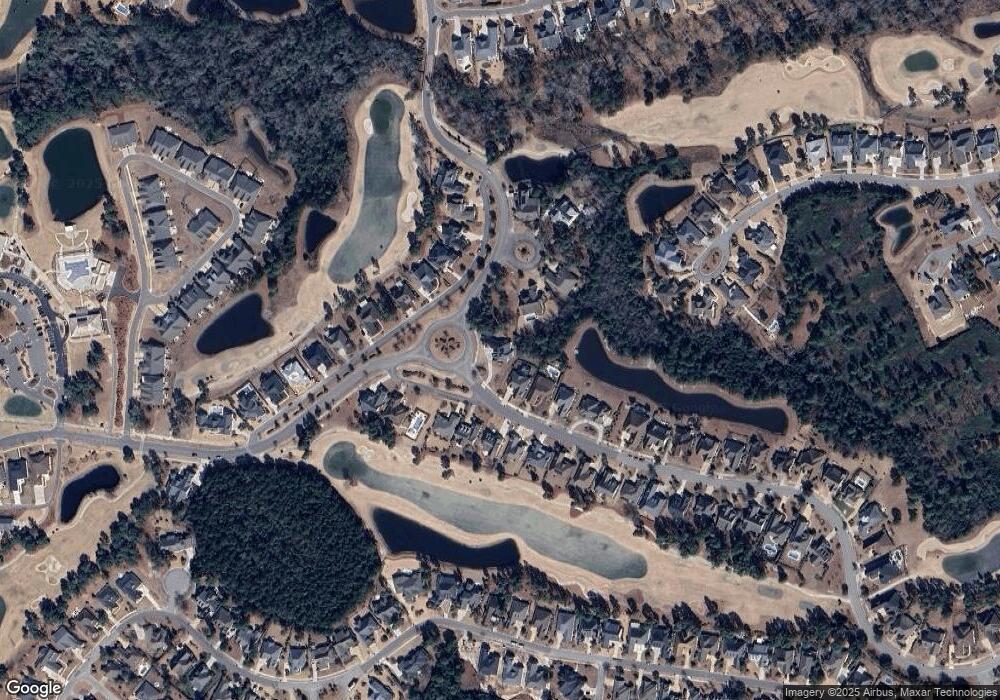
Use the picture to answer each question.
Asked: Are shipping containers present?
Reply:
No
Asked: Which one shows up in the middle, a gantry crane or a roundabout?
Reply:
roundabout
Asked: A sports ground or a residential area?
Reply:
residential area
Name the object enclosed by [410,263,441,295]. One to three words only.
house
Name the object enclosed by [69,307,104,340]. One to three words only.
building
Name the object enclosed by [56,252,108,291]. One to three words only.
swimming pool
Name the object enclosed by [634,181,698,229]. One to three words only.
pond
